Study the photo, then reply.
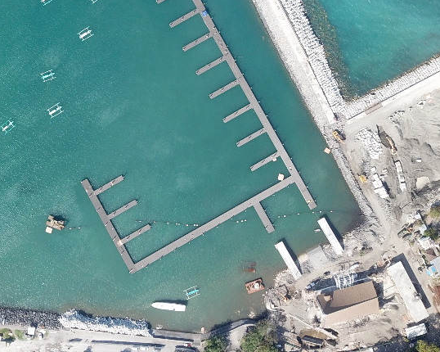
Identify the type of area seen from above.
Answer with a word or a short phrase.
port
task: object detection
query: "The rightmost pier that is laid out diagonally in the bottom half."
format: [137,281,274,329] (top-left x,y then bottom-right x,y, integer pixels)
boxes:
[316,216,344,254]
